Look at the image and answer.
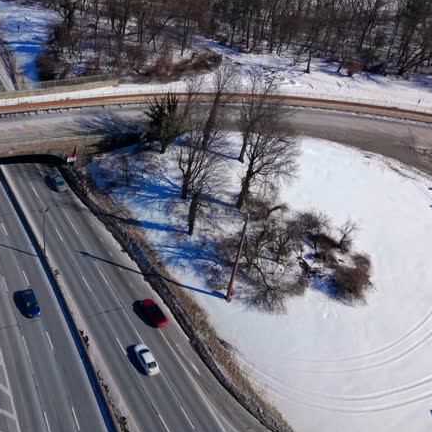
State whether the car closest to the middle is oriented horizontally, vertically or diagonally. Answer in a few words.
diagonally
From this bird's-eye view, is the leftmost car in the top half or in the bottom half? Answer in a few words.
bottom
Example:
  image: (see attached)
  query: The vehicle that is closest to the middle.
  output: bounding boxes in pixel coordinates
[140,300,168,330]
